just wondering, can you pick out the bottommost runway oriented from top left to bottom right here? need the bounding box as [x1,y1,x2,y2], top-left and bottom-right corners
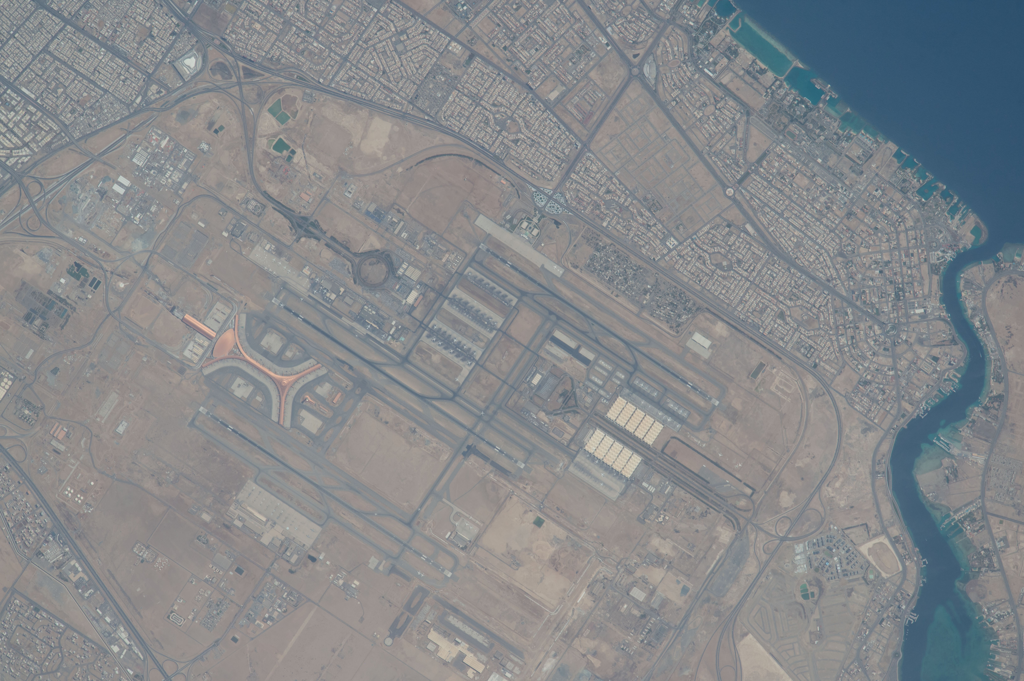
[197,405,453,577]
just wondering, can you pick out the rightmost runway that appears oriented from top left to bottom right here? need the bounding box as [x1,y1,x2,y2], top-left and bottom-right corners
[477,241,721,408]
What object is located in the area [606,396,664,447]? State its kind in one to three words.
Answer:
building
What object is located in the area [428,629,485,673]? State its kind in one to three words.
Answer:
hangar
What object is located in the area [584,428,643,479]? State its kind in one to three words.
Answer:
building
